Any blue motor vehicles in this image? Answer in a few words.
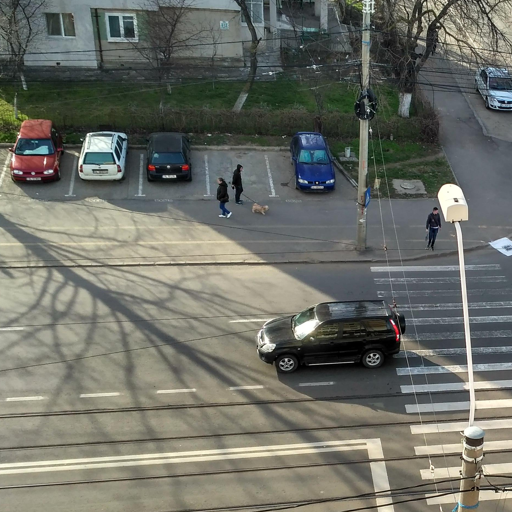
Yes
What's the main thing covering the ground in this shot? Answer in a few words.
paved ground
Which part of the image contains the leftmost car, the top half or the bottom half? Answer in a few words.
top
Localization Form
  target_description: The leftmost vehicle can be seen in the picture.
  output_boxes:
[8,120,70,178]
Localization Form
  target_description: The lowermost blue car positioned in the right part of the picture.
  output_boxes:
[290,129,338,184]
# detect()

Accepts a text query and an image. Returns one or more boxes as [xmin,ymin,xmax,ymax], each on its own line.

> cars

[77,126,132,177]
[254,295,408,371]
[476,68,512,108]
[290,129,338,184]
[145,131,195,178]
[8,120,70,178]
